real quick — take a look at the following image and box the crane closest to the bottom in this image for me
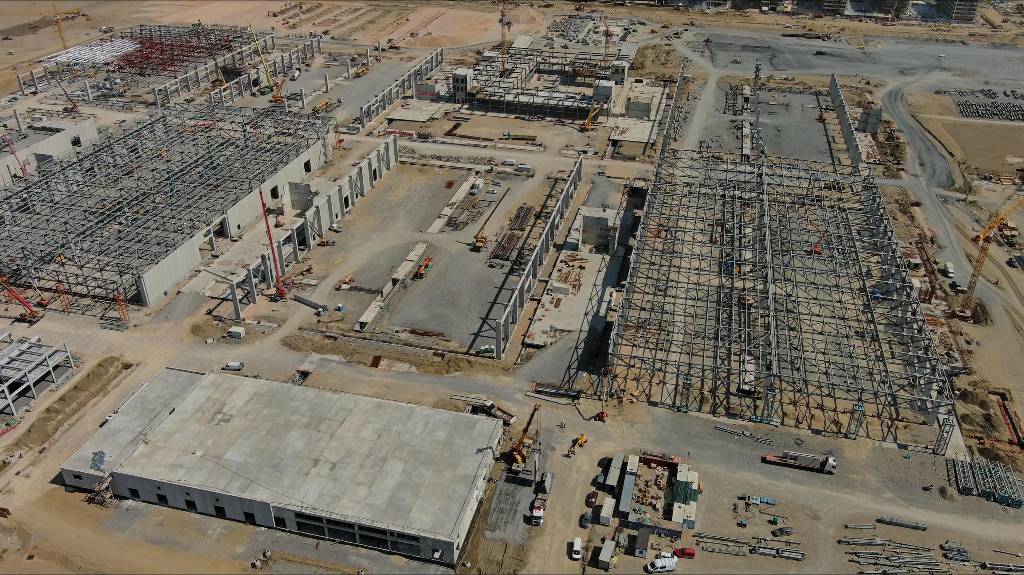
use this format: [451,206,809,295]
[502,406,542,480]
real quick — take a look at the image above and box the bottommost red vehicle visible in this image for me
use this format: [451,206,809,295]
[674,548,698,561]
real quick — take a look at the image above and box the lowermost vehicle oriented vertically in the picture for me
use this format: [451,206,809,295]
[570,534,582,560]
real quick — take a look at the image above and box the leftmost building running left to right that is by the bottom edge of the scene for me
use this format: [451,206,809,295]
[62,365,503,564]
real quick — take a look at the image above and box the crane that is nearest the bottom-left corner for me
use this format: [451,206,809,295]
[0,274,46,326]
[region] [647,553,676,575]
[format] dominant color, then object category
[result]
white vehicle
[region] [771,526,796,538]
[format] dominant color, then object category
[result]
gray vehicle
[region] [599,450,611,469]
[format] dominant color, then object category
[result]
black vehicle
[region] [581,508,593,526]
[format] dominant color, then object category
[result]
gray vehicle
